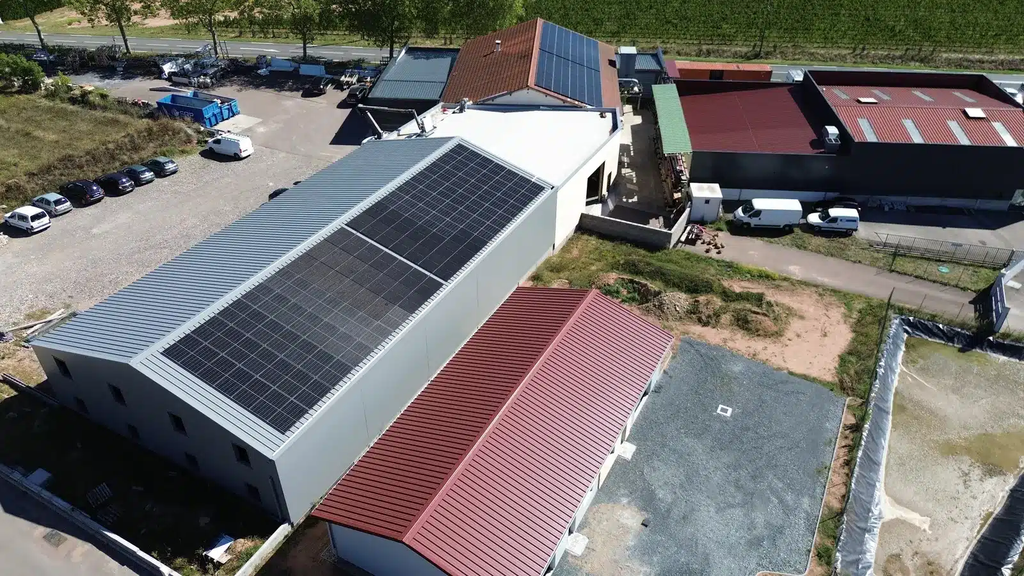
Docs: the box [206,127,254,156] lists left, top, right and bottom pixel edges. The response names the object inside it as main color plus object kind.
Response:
white van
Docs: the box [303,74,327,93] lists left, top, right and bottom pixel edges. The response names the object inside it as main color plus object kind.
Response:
black car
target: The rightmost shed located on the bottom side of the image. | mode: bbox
[306,287,675,576]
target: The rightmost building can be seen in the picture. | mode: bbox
[801,71,1024,207]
